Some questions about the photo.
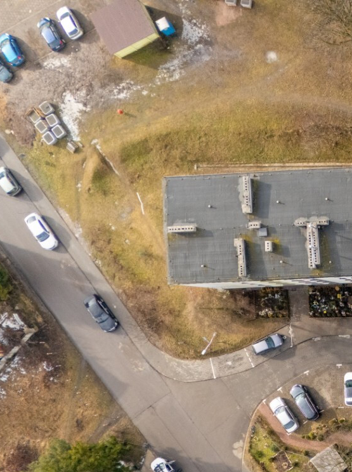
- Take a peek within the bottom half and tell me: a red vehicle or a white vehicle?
white vehicle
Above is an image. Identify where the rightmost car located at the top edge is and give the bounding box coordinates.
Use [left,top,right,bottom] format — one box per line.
[57,4,84,43]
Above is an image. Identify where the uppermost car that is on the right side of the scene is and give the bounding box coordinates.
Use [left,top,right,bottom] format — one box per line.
[251,332,288,357]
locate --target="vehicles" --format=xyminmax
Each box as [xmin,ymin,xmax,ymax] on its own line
[0,56,14,84]
[342,370,352,407]
[0,32,25,68]
[268,397,302,434]
[150,455,176,472]
[251,332,288,357]
[0,164,24,197]
[57,4,84,43]
[291,383,320,422]
[83,295,120,332]
[38,15,67,54]
[23,212,61,250]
